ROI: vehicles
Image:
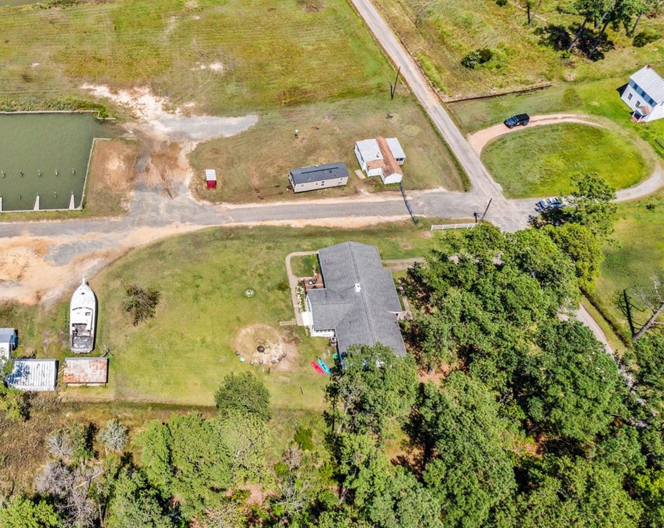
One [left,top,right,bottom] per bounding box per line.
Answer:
[504,113,530,127]
[538,193,567,209]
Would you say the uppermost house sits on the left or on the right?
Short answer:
right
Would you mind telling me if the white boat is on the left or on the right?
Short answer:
left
